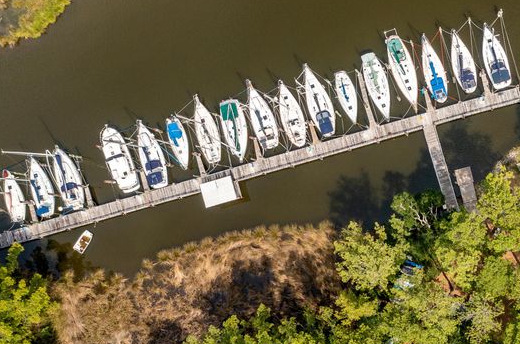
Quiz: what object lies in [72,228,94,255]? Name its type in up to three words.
boat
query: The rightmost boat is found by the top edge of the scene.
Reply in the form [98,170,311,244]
[468,13,519,96]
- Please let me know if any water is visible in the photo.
Yes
